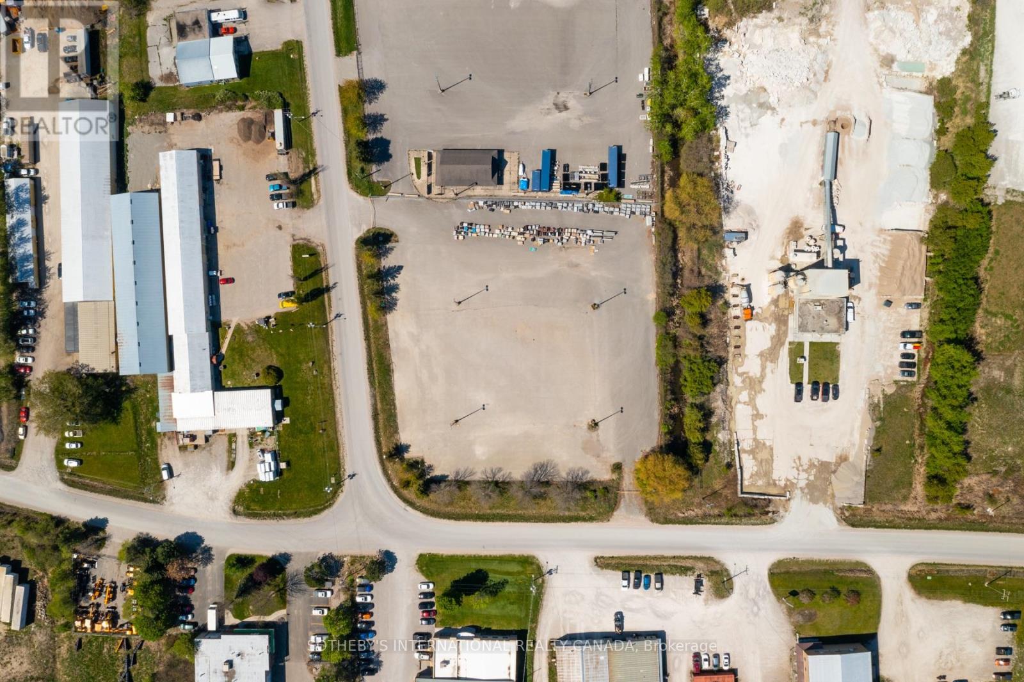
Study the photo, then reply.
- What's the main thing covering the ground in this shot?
paved ground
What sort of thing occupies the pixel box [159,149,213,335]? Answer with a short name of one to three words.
building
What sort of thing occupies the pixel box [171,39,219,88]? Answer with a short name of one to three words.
building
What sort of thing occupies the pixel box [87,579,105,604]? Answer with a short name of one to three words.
work vehicle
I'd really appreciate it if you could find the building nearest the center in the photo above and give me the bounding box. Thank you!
[436,150,497,186]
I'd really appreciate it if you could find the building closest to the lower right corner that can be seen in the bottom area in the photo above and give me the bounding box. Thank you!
[802,644,872,682]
